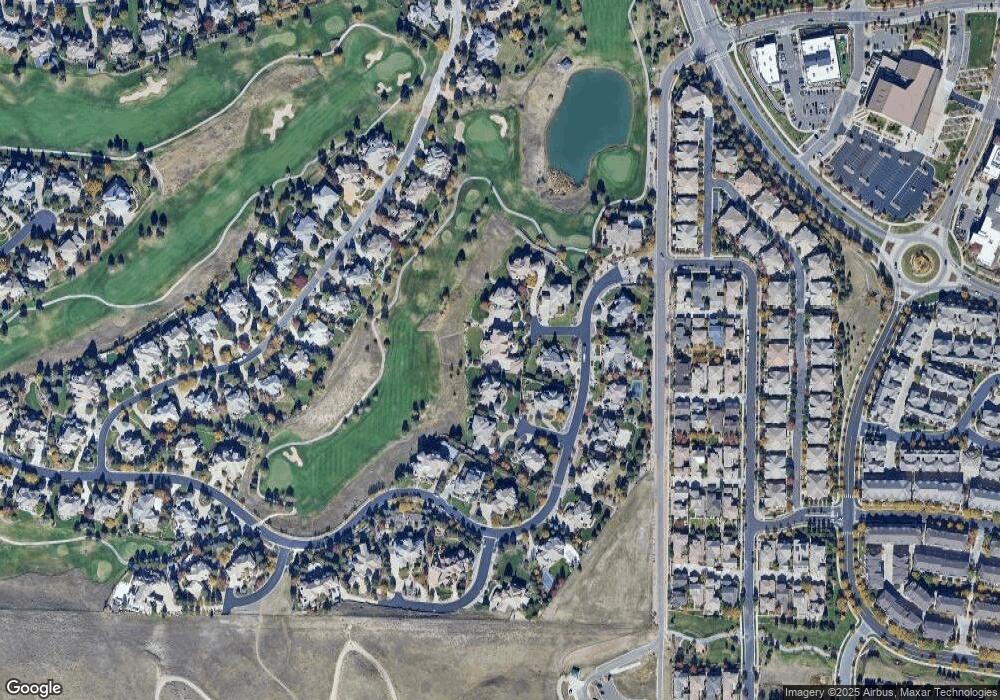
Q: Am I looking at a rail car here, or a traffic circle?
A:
traffic circle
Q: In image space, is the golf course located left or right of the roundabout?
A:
to the left of it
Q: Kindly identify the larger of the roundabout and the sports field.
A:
the roundabout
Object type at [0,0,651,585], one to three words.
golf course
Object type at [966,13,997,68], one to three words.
sports field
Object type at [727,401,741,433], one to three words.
house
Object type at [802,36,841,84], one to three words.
building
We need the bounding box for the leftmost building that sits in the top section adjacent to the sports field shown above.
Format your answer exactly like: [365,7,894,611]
[868,56,943,135]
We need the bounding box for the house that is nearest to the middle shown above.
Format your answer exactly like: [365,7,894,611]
[479,331,522,374]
